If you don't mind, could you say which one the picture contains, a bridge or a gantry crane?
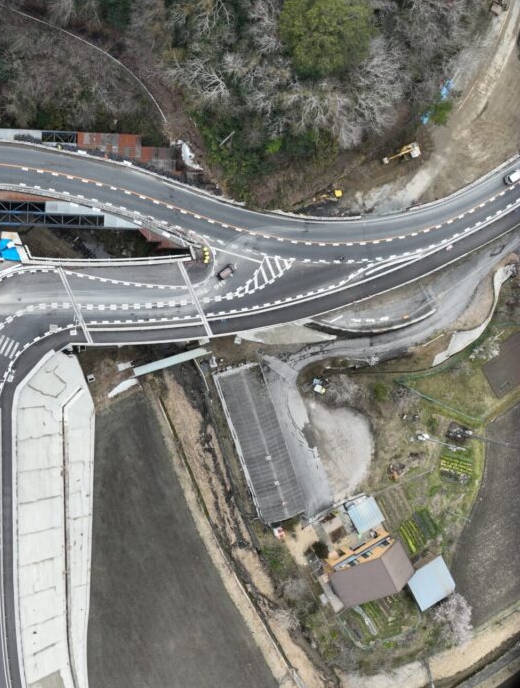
bridge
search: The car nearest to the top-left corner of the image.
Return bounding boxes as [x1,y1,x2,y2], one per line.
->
[217,263,237,280]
